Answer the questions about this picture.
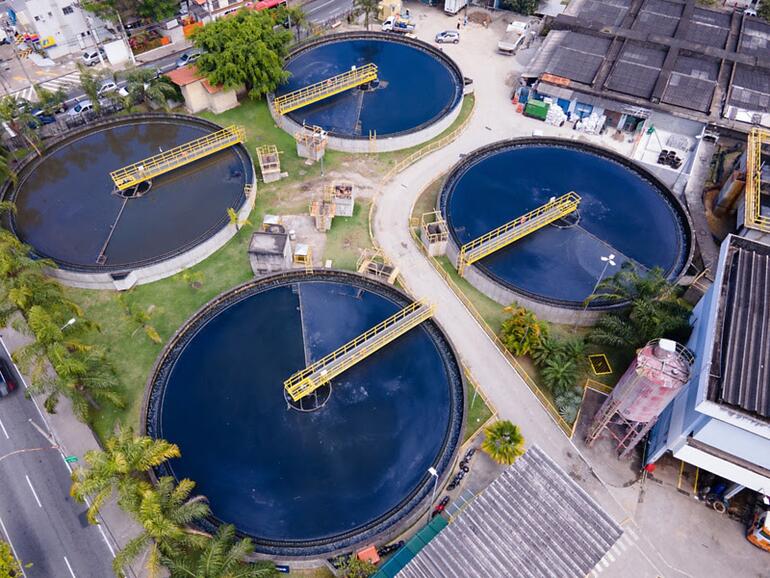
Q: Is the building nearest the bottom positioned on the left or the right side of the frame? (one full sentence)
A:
It is on the right.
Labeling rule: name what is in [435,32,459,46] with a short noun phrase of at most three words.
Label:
car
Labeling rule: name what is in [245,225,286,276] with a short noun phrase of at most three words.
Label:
building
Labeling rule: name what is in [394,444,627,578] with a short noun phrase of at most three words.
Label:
building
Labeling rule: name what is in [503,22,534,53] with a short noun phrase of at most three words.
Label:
truck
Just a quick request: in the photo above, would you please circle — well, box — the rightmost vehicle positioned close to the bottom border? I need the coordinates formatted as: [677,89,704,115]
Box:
[744,499,770,558]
